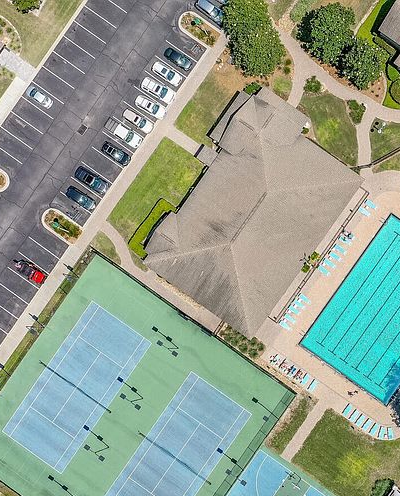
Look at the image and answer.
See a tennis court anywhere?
Yes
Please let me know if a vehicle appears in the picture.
Yes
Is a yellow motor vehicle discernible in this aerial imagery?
No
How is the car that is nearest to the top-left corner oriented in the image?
on a diagonal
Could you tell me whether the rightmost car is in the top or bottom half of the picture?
top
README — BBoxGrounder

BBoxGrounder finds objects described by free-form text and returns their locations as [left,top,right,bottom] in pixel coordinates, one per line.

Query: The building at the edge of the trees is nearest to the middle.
[143,86,361,337]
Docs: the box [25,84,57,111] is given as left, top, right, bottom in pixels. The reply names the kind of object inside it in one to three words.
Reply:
car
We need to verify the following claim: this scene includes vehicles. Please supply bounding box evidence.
[65,185,96,212]
[162,45,194,72]
[105,116,143,148]
[122,108,155,135]
[13,257,48,285]
[150,59,184,87]
[133,92,167,121]
[193,0,223,24]
[75,166,109,193]
[100,140,132,167]
[141,75,176,105]
[25,84,57,111]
